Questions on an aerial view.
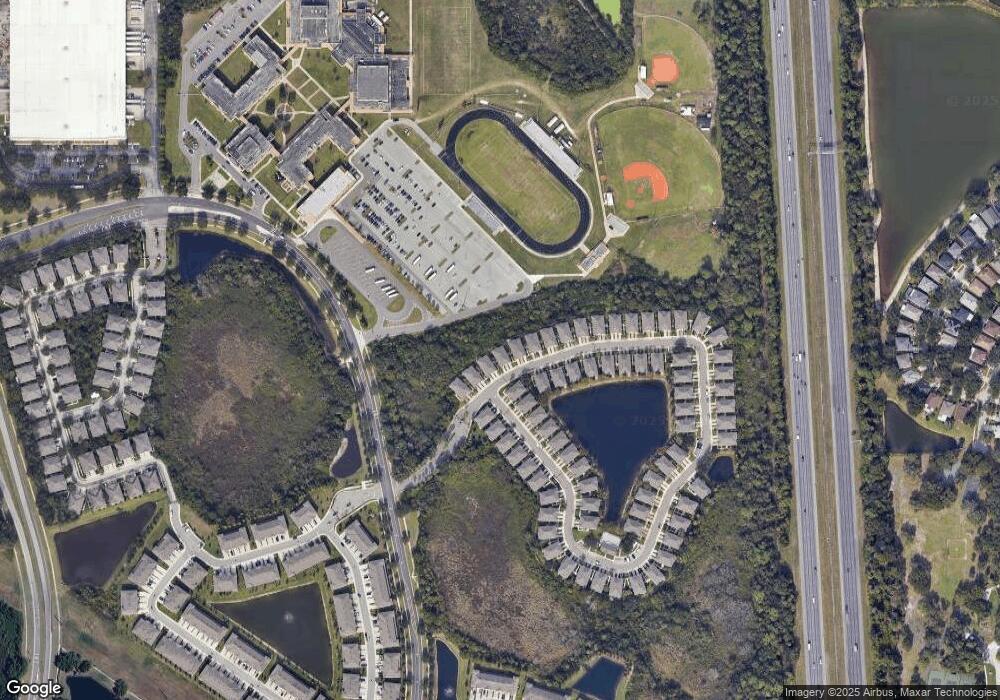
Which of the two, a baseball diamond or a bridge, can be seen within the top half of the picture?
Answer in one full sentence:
You can see a baseball diamond within the top half of the picture.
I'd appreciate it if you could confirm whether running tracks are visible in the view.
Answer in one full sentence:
Yes, there is a running track in the image.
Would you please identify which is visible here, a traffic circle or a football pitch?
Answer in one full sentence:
Looking from above, you can make out a football pitch.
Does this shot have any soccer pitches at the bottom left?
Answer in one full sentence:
No, I see no soccer pitch at the bottom left.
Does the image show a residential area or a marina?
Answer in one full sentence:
This looks like a residential area.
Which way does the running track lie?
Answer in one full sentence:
From this overhead view, the running track appears to run on a diagonal.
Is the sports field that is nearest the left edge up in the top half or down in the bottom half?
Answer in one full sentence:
The sports field that is nearest the left edge is in the top half of the image.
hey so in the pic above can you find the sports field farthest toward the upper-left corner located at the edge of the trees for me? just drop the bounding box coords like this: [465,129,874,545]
[421,4,517,96]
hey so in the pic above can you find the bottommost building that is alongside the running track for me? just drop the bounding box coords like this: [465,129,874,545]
[577,243,607,273]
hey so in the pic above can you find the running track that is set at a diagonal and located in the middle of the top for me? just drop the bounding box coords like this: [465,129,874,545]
[441,108,591,254]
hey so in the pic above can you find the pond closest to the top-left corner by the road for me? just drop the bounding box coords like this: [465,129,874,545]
[175,227,295,286]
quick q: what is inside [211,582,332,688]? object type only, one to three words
pond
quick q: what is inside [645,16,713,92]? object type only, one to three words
baseball field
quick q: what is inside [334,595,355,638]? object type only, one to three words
house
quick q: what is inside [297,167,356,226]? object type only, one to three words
building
